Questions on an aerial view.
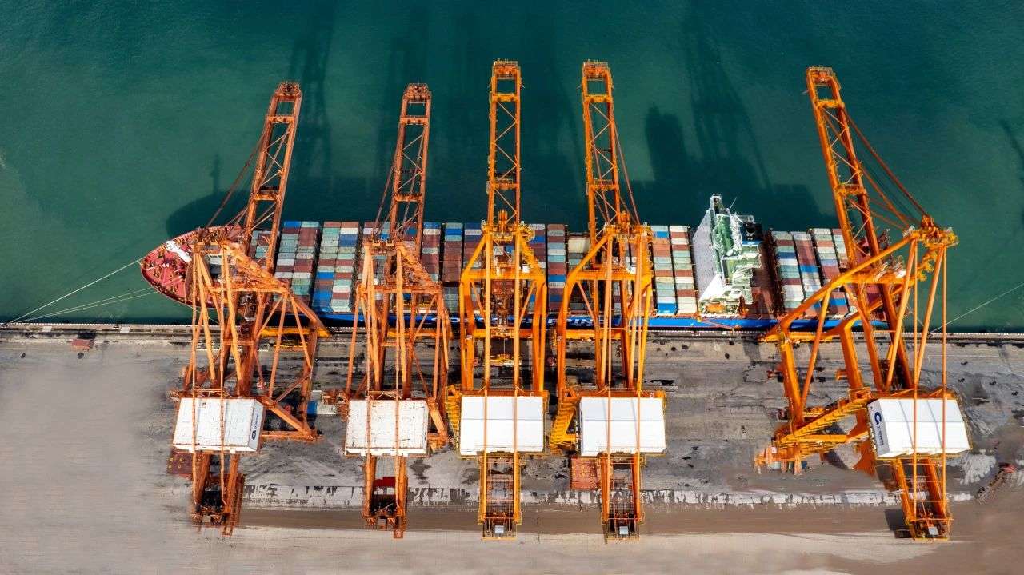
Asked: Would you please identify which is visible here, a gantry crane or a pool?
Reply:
gantry crane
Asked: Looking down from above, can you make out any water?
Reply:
Yes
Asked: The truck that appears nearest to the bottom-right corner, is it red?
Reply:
Yes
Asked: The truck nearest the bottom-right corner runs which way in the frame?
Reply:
at an angle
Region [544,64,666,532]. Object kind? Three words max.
container crane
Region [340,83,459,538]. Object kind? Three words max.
container crane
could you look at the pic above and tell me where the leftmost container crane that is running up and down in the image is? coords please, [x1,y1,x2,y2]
[168,81,334,537]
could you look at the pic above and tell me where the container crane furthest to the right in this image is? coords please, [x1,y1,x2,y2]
[770,68,970,534]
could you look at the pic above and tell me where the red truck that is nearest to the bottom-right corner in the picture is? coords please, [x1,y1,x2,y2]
[981,460,1020,498]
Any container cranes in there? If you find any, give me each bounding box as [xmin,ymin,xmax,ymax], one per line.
[544,64,666,532]
[168,81,334,537]
[340,83,459,538]
[770,68,970,534]
[446,63,548,532]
